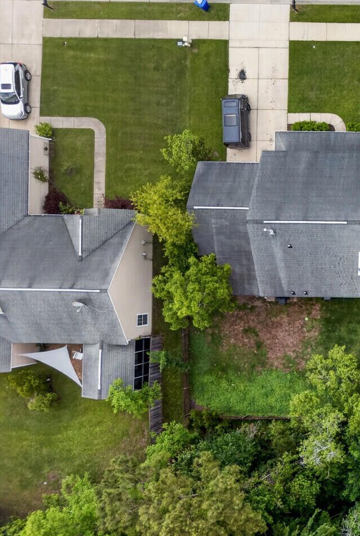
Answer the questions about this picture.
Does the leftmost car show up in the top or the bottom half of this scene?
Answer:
top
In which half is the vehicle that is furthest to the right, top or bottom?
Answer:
top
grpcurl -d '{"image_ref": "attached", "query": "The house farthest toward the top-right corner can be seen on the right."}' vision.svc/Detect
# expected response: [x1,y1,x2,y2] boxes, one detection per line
[187,131,360,297]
